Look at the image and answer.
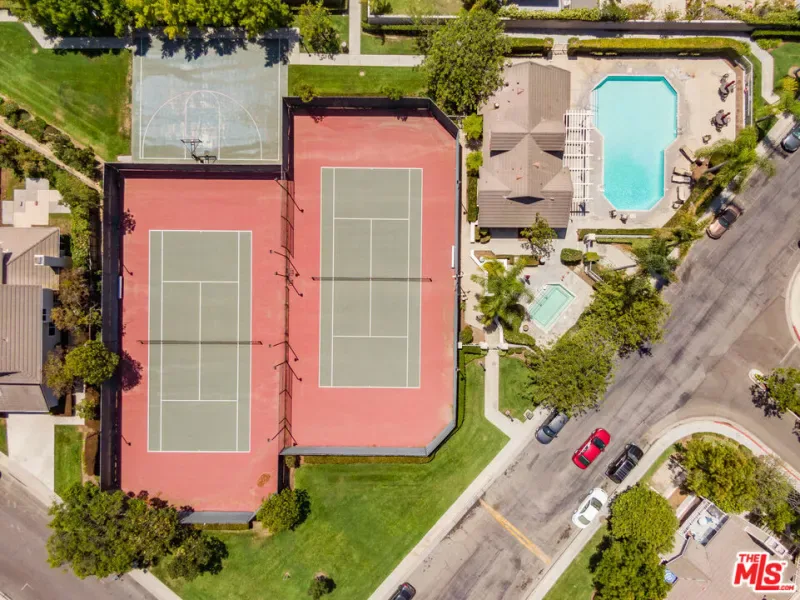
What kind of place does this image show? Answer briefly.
sports ground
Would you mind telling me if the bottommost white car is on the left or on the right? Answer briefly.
right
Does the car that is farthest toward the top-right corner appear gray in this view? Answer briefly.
Yes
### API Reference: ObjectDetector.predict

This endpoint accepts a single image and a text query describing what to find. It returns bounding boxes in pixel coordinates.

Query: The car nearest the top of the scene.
[778,115,800,152]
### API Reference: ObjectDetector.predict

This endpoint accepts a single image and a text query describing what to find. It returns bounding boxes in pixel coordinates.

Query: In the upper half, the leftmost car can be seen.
[705,200,744,240]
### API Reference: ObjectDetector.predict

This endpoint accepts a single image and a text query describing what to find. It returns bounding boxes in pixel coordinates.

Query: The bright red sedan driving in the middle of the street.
[572,427,610,470]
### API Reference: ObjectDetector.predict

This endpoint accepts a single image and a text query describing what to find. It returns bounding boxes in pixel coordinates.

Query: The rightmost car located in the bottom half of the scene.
[605,442,645,485]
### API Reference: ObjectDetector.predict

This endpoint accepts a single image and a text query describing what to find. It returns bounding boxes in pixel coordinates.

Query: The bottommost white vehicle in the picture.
[571,488,607,530]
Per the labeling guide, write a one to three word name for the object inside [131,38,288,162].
basketball court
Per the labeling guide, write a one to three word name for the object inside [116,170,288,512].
tennis court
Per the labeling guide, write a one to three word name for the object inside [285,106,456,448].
tennis court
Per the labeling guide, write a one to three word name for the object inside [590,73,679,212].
swimming pool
